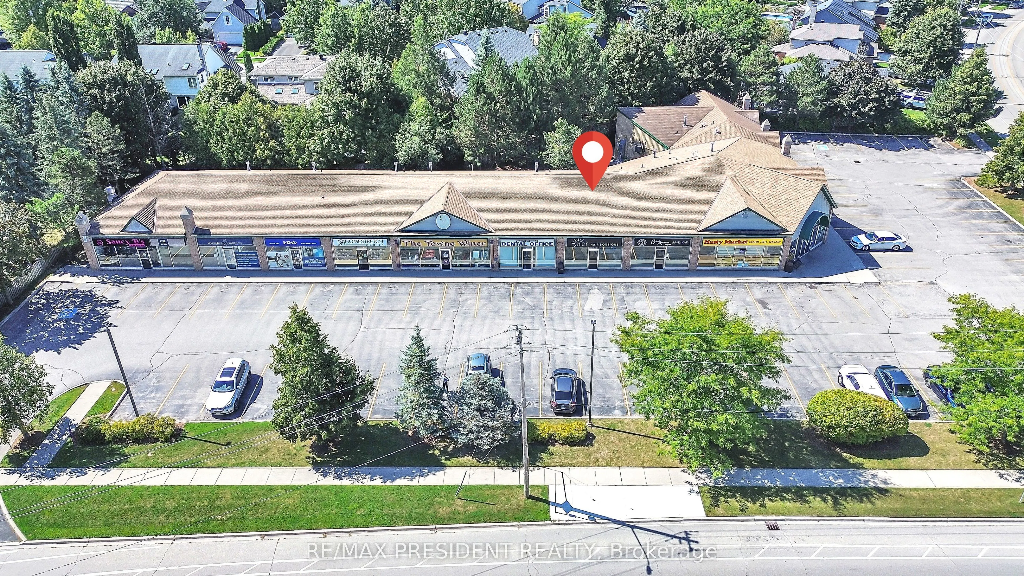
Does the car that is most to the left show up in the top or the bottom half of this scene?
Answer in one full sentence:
The car that is most to the left is in the bottom half of the image.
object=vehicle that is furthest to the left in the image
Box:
[210,348,262,407]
